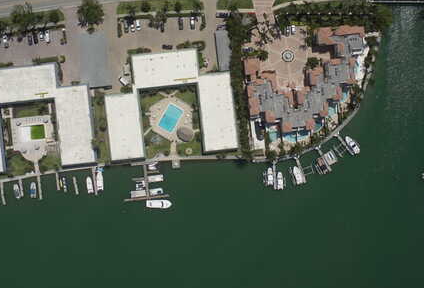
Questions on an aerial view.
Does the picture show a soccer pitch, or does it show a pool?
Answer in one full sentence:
Visible in the photo is a pool.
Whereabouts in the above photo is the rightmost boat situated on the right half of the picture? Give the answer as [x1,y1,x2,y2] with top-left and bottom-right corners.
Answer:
[346,136,360,156]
